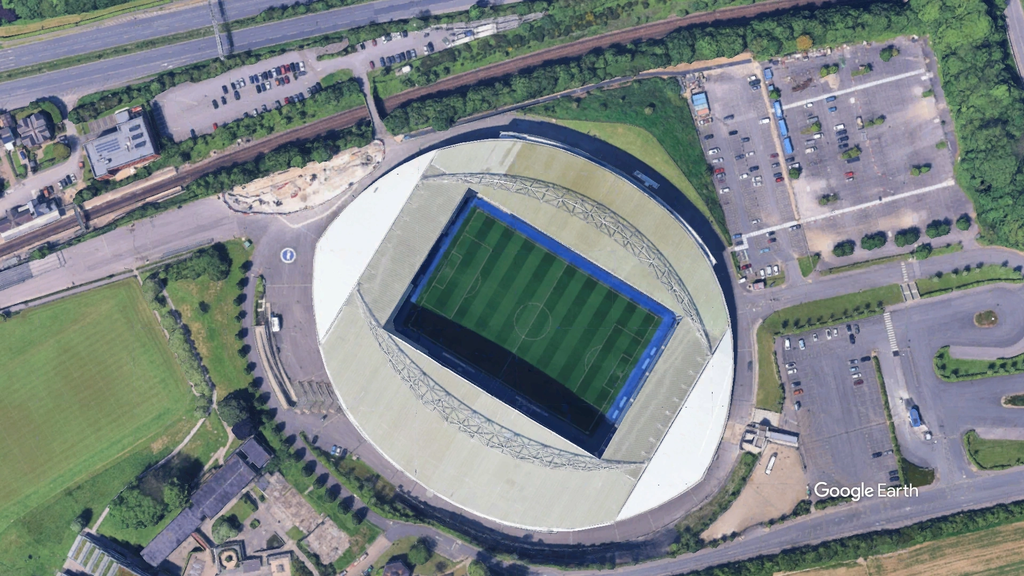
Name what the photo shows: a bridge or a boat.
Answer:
bridge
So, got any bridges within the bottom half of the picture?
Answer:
No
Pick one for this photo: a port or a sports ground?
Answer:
sports ground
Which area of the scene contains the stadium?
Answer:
center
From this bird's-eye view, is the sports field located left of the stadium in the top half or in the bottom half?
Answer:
bottom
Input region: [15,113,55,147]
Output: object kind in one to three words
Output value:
house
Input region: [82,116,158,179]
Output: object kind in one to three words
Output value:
building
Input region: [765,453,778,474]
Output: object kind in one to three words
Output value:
vehicle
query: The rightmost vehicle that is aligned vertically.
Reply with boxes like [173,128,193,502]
[909,407,921,427]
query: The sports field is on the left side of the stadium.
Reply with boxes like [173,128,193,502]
[0,278,194,517]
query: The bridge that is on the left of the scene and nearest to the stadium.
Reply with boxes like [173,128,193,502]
[357,84,389,141]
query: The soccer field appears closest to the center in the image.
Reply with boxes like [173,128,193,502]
[400,203,666,440]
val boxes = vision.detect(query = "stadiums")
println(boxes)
[312,132,735,533]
